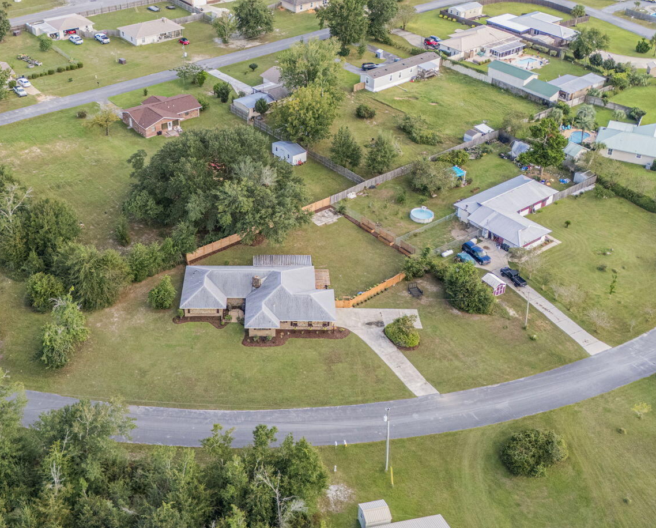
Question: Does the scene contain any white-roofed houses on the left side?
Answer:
Yes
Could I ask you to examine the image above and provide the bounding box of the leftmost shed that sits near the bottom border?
[355,497,392,528]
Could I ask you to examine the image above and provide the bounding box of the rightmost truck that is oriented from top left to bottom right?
[496,263,531,288]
